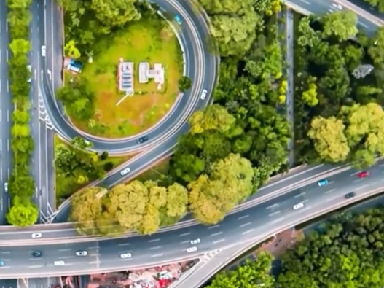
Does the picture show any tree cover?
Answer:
Yes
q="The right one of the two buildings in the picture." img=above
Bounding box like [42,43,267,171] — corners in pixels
[137,62,164,90]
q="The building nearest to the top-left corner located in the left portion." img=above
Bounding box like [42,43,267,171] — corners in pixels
[118,58,134,92]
